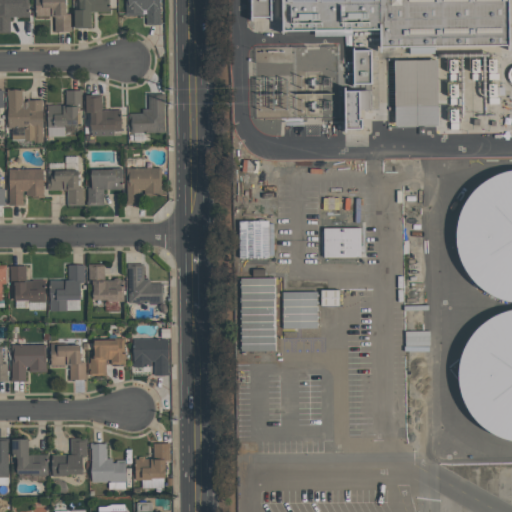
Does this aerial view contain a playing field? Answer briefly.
No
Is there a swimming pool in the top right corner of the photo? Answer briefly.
No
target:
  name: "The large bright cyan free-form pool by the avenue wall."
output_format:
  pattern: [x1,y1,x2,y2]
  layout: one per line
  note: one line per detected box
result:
[145,149,166,166]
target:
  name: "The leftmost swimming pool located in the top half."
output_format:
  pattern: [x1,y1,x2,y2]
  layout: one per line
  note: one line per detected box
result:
[22,150,44,167]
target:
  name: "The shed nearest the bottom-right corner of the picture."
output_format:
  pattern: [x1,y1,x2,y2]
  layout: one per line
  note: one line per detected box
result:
[406,332,431,346]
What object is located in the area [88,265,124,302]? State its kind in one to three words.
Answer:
house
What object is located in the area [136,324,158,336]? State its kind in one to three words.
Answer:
swimming pool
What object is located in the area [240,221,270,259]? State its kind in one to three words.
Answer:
shed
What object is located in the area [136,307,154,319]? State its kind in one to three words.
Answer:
swimming pool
